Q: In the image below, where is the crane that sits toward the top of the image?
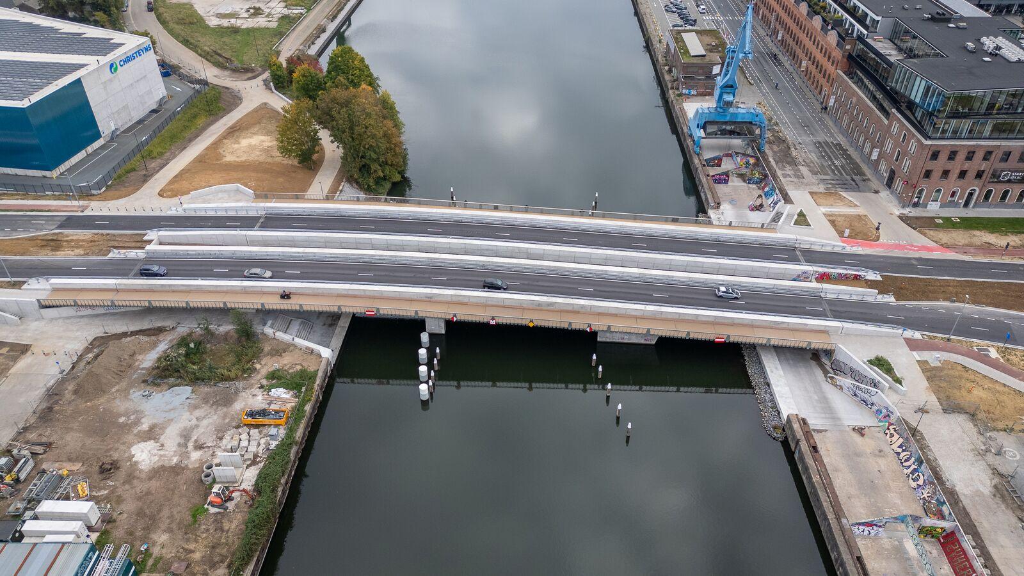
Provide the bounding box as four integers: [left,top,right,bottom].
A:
[688,0,771,155]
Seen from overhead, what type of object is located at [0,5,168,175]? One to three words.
building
